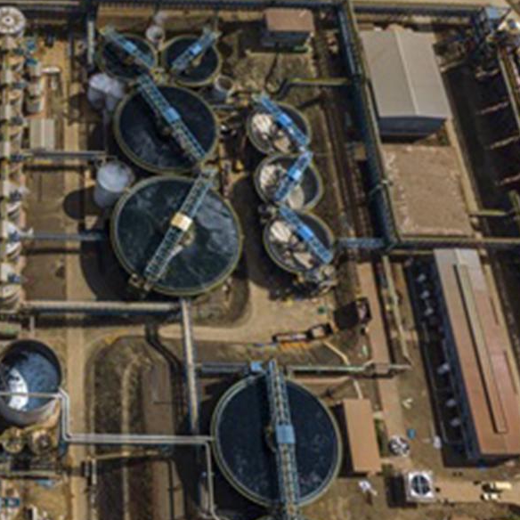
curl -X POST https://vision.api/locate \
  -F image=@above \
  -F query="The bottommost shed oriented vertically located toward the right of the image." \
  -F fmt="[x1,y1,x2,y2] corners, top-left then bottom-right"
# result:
[337,400,383,474]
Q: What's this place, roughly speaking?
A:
industrial area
